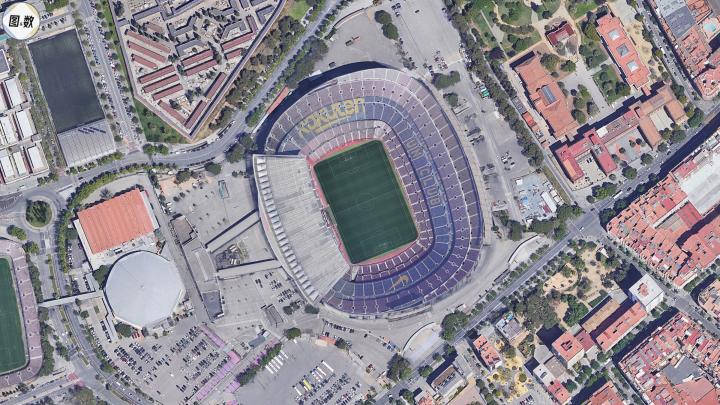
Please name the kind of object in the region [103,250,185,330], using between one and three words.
stadium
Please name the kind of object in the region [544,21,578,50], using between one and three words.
house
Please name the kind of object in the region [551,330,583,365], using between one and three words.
building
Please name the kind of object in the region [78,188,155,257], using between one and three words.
building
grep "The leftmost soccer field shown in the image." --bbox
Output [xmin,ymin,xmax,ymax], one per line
[0,259,23,371]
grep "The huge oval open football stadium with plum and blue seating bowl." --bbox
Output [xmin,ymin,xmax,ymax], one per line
[252,68,486,326]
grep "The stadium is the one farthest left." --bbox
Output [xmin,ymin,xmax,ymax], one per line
[0,239,43,393]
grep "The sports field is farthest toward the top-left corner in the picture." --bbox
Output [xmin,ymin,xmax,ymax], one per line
[24,25,108,137]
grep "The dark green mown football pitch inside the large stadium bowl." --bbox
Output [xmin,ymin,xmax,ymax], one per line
[309,140,419,267]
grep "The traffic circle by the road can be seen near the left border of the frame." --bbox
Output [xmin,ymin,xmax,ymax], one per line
[15,189,65,237]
